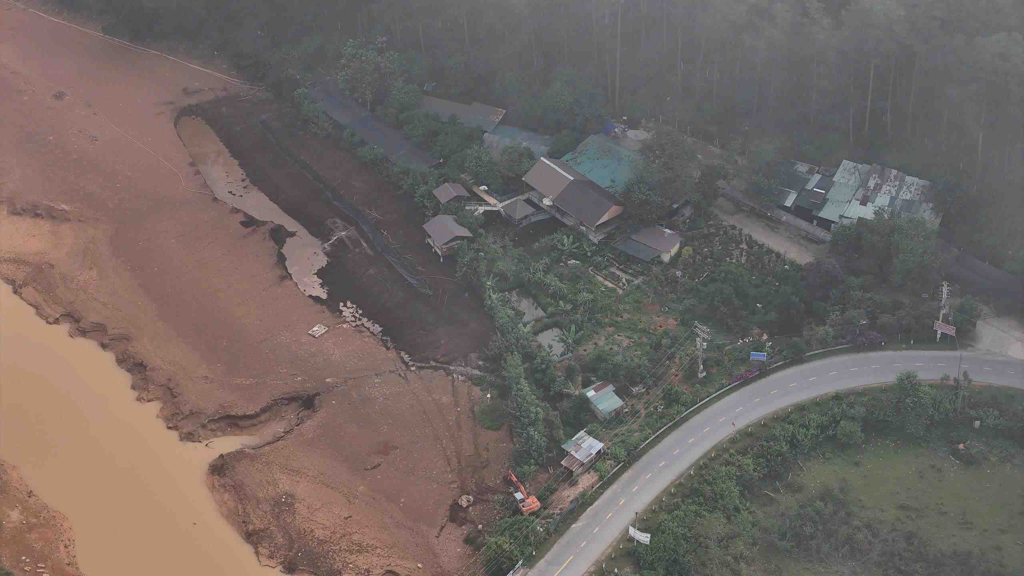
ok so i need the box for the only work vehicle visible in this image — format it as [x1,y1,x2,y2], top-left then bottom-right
[503,464,544,517]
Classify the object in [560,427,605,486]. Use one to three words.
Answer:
shed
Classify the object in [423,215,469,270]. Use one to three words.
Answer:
building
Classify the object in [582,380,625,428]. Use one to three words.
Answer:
shed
